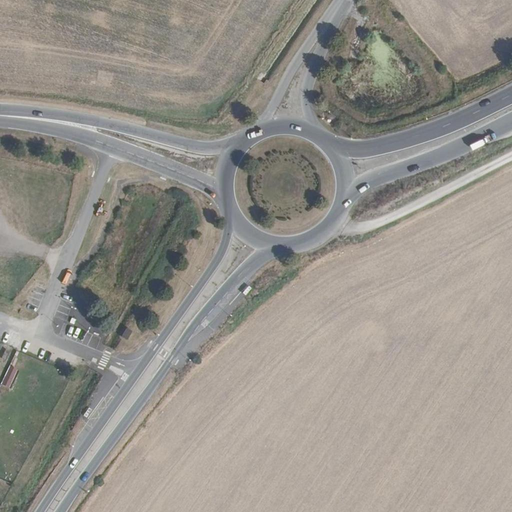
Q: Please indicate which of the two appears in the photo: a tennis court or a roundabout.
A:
roundabout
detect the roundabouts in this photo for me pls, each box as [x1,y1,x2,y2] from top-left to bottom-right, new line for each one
[215,116,356,256]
